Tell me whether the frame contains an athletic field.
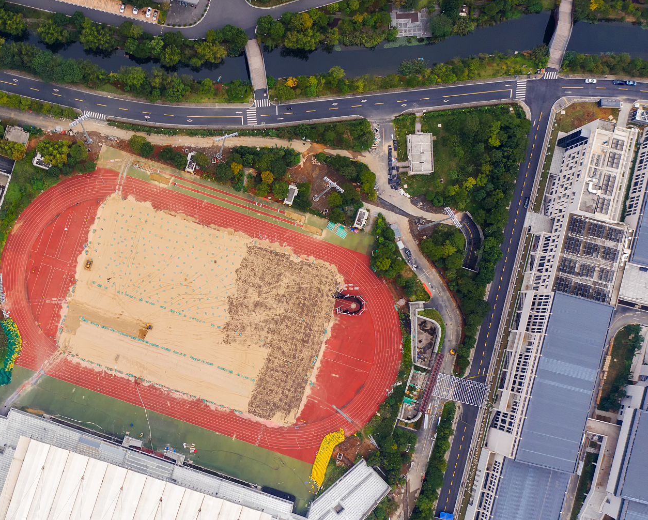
Yes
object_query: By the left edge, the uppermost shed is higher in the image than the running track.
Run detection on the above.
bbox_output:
[5,125,31,148]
